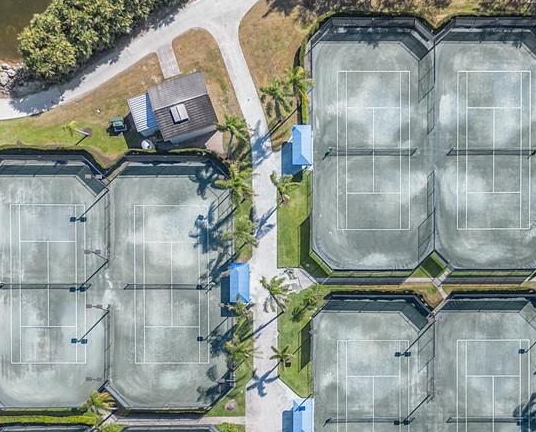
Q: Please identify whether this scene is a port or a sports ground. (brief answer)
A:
sports ground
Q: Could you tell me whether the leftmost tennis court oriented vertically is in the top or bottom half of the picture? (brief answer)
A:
bottom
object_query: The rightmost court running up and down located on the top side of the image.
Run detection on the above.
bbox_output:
[434,27,536,269]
